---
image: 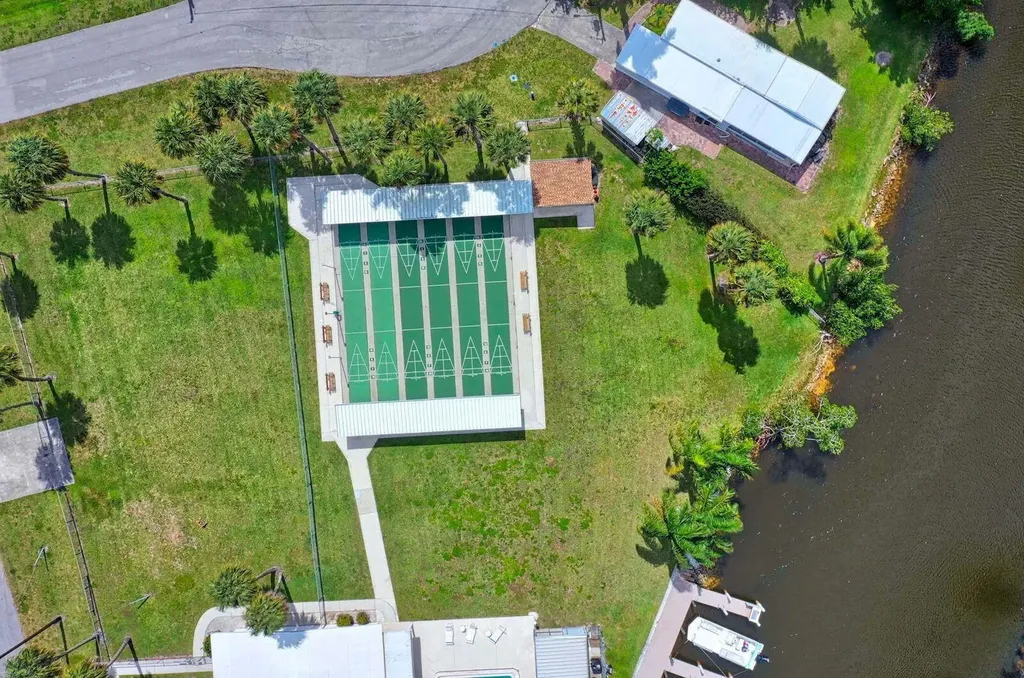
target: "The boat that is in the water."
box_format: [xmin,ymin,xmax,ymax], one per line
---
[686,618,764,668]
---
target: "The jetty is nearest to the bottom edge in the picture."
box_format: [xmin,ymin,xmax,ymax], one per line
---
[665,657,727,678]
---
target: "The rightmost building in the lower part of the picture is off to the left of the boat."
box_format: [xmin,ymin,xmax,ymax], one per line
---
[534,619,591,678]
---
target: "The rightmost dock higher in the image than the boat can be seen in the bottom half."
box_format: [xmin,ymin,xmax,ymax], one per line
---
[694,584,757,617]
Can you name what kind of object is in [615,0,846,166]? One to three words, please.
house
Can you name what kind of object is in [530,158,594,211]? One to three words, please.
shed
